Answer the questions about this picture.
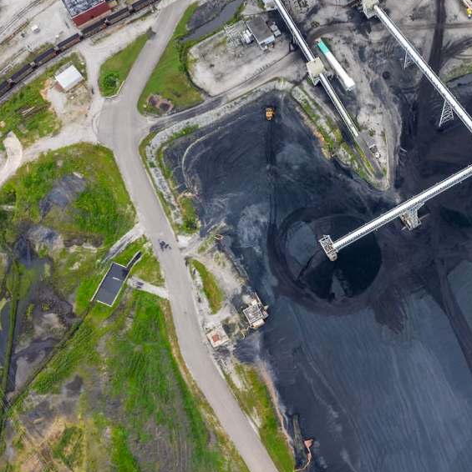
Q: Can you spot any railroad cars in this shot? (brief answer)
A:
Yes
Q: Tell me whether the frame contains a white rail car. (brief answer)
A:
No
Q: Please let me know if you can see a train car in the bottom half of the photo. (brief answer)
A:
No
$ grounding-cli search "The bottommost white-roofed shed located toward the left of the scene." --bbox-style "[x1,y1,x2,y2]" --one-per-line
[55,65,86,94]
